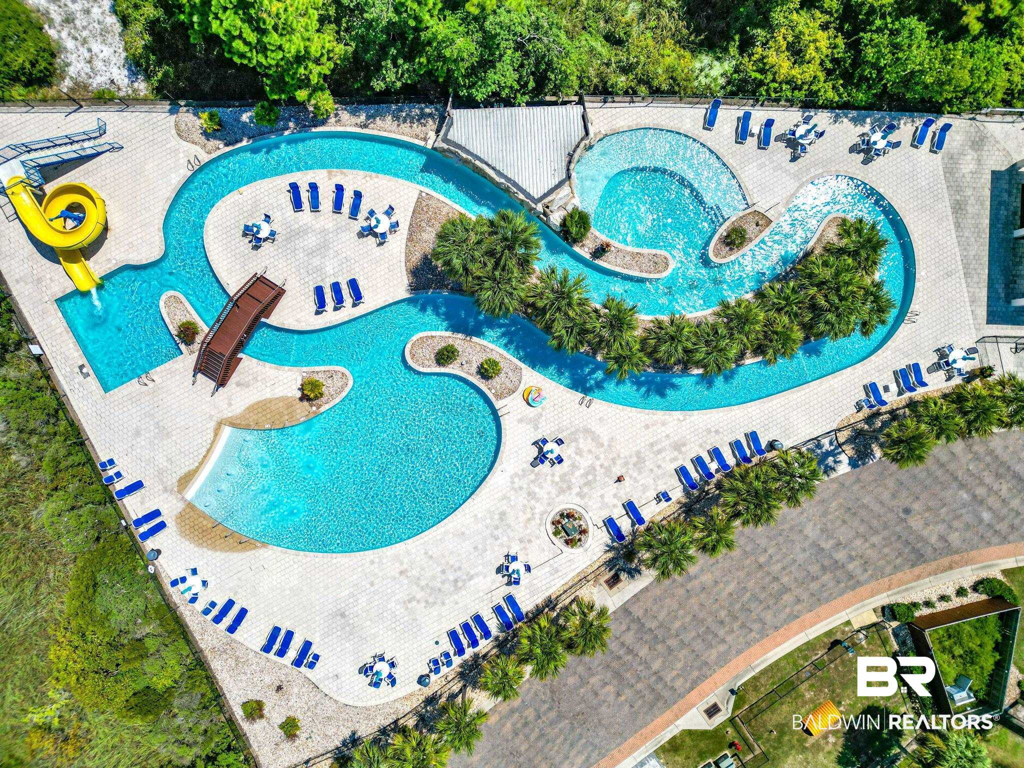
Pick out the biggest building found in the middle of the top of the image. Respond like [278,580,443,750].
[428,87,603,225]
